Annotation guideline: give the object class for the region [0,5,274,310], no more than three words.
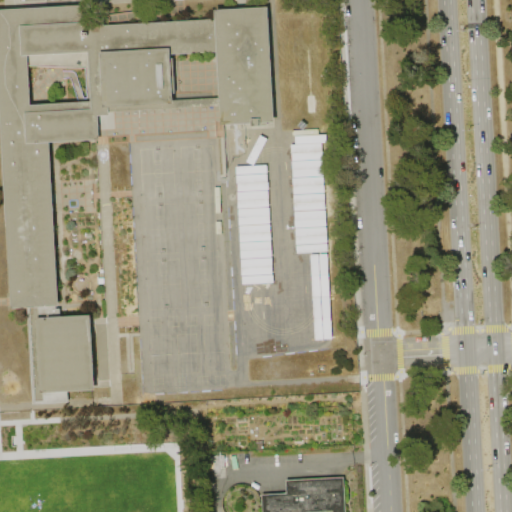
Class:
building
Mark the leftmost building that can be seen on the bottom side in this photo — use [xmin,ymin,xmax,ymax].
[34,314,94,392]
